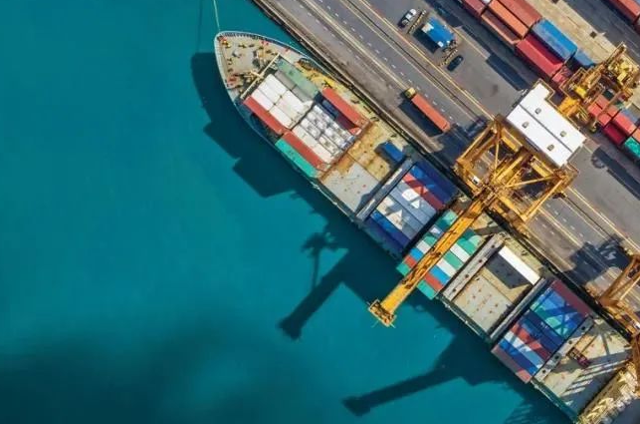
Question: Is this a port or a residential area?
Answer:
port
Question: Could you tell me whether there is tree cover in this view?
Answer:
No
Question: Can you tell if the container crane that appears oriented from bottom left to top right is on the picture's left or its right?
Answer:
right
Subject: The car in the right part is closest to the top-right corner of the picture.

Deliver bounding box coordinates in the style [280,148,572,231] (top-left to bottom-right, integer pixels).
[448,54,463,69]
